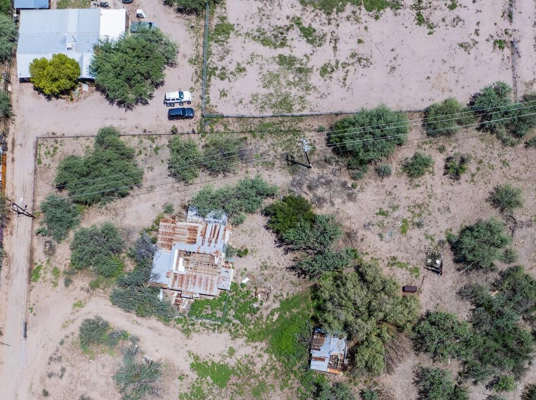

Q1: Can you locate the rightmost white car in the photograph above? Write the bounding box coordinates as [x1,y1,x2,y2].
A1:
[164,91,194,107]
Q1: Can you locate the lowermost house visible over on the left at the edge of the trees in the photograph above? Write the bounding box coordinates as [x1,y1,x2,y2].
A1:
[151,206,233,307]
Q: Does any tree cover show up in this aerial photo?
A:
Yes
